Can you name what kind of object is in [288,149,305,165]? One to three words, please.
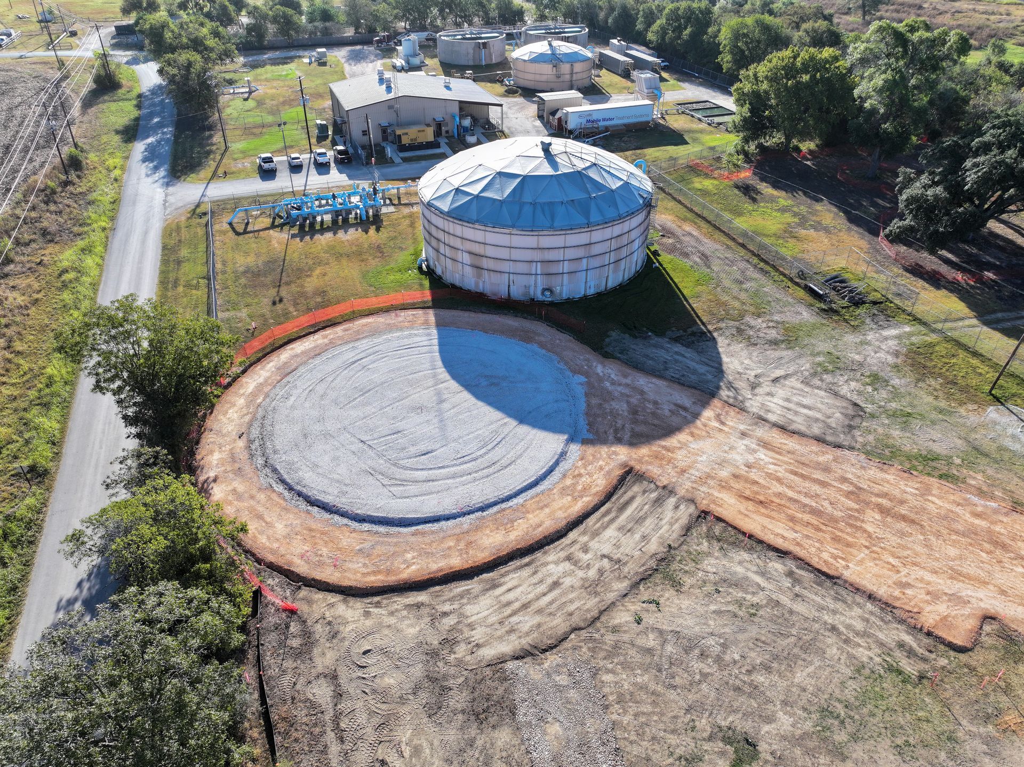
car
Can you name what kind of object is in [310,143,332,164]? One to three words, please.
truck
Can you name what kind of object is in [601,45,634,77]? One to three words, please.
trailer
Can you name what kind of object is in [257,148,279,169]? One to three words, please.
truck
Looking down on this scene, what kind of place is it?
industrial area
